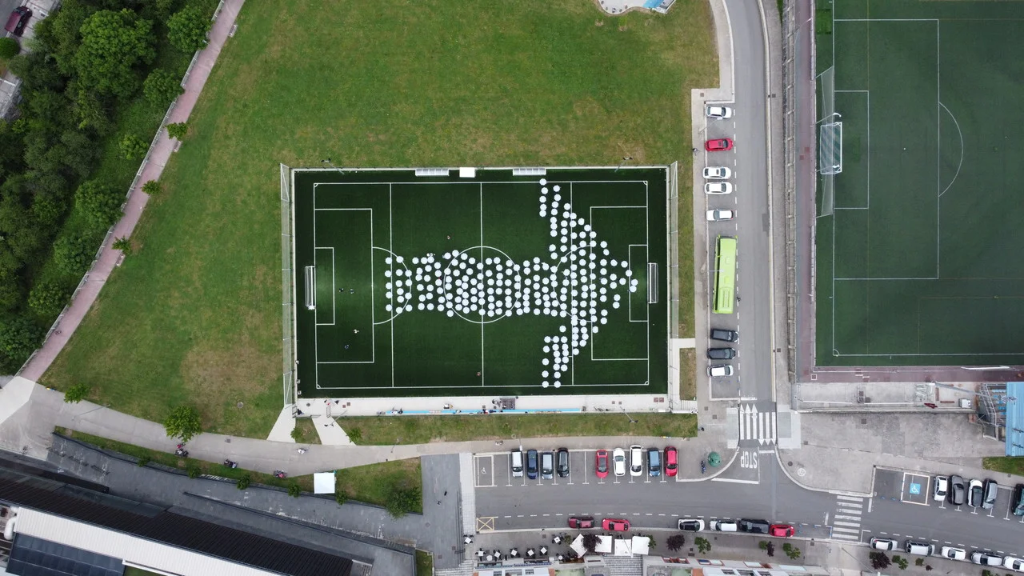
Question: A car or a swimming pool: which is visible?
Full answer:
The image shows a car.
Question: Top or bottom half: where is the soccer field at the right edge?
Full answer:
The soccer field at the right edge sits in the top half of the picture.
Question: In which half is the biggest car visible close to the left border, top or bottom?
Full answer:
The biggest car visible close to the left border is in the top half of the image.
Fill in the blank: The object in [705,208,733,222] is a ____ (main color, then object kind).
white car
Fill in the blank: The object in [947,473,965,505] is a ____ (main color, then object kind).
gray car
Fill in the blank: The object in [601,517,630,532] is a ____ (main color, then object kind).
red car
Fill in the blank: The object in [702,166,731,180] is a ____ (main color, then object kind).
white car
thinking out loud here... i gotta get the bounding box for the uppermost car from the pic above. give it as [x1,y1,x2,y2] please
[3,6,33,36]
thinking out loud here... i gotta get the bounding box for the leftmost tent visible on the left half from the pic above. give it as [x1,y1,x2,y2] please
[314,469,338,493]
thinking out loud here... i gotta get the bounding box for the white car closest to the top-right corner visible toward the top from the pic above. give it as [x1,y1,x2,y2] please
[705,105,732,119]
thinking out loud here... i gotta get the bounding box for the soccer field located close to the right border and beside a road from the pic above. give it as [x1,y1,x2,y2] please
[816,0,1024,367]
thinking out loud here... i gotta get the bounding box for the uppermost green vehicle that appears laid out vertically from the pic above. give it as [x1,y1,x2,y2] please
[712,234,738,313]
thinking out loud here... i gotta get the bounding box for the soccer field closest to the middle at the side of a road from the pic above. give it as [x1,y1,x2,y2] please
[291,166,671,399]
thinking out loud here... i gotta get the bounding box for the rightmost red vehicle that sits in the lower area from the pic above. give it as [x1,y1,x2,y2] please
[769,522,795,537]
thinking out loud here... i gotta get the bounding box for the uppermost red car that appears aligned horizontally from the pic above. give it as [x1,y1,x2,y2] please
[704,138,733,152]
